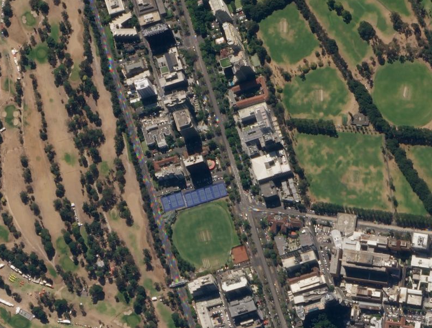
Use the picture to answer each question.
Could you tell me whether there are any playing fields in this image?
Yes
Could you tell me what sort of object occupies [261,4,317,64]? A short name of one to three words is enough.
sports field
